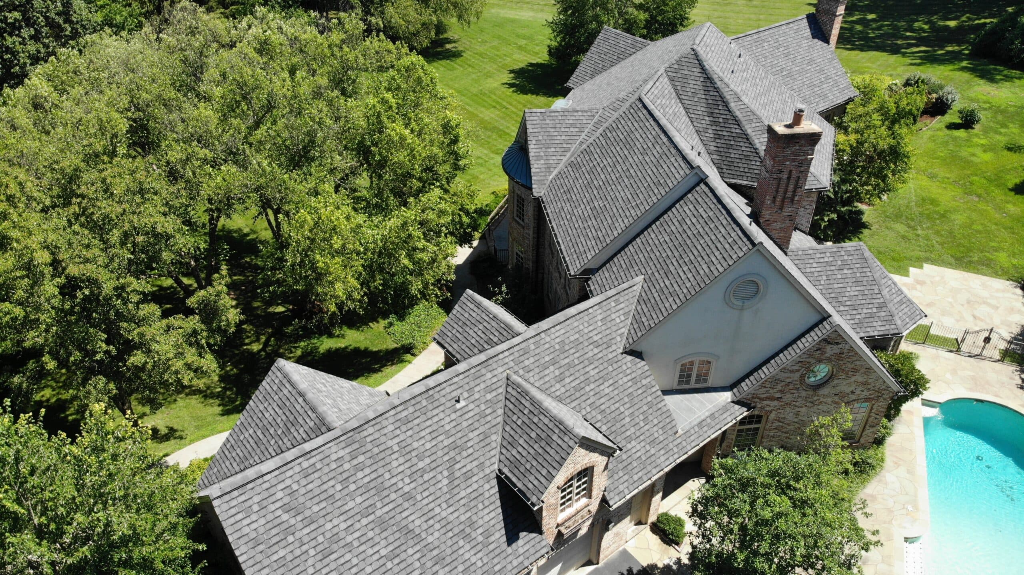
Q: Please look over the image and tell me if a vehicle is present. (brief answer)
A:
No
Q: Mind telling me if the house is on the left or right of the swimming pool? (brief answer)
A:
left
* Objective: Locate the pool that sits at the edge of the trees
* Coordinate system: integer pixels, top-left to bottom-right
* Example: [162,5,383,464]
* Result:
[893,392,1024,575]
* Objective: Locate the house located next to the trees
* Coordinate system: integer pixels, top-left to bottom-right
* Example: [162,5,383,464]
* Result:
[191,0,928,575]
